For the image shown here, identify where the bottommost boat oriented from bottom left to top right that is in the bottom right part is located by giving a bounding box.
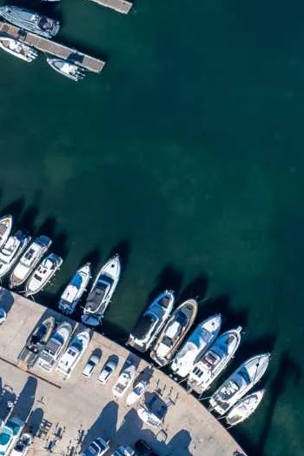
[222,388,265,427]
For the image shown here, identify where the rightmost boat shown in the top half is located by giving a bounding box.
[44,56,86,82]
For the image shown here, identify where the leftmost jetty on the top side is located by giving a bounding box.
[0,22,104,73]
